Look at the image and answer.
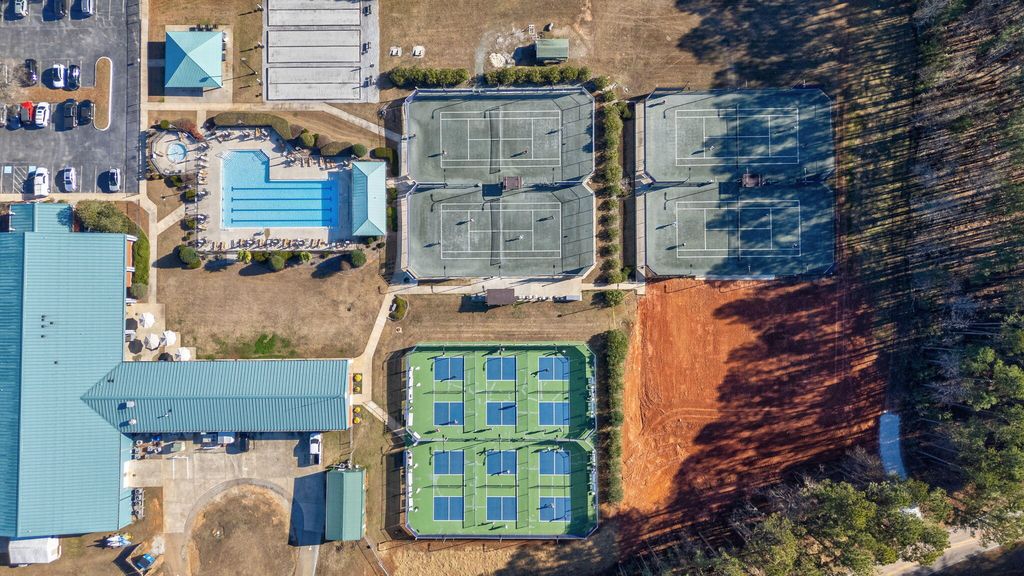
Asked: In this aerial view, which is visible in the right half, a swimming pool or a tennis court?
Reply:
tennis court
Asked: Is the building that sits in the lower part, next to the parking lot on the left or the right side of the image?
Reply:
left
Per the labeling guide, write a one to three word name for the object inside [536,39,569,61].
shed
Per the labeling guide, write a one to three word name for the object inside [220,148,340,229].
swimming pool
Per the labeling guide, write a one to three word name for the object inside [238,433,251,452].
vehicle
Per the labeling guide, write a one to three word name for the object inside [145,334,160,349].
umbrella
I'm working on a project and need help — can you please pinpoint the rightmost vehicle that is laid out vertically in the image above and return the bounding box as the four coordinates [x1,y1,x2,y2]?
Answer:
[309,434,322,464]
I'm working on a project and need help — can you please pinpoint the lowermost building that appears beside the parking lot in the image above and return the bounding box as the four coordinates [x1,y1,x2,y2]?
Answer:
[0,202,355,537]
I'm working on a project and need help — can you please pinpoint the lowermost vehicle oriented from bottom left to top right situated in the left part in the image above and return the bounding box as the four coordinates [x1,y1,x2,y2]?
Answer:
[137,552,153,569]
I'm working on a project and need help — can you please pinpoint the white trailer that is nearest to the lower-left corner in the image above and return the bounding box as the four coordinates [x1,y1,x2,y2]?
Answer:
[7,536,71,565]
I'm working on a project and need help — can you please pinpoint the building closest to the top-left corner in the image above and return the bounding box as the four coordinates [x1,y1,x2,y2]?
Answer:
[166,31,226,89]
